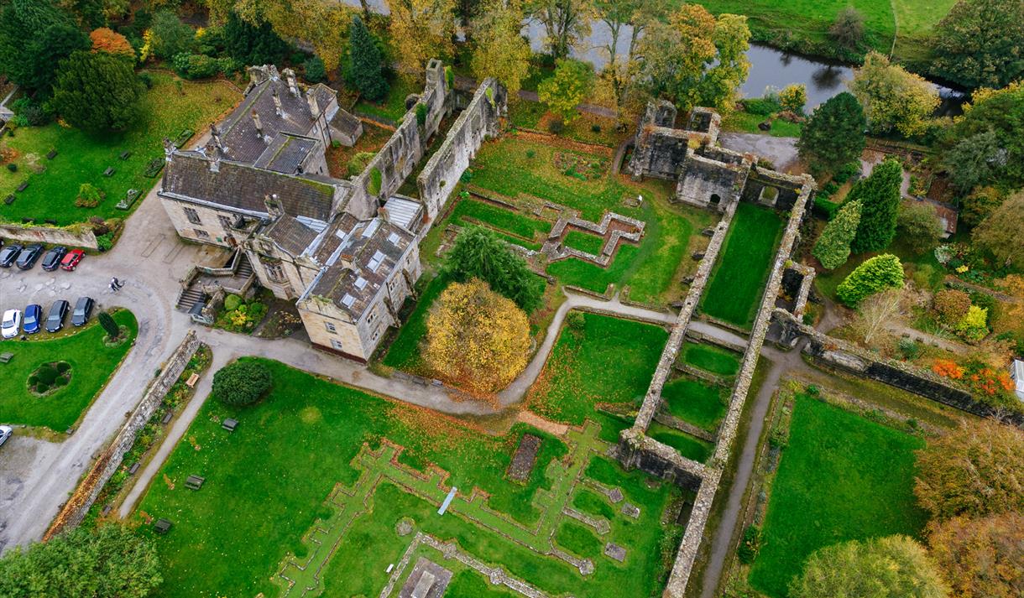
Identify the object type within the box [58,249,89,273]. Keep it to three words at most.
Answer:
car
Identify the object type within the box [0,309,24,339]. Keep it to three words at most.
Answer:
car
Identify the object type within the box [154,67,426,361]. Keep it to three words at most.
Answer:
house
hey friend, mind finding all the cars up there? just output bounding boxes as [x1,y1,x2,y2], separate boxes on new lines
[69,295,94,327]
[39,247,72,272]
[0,419,19,448]
[0,309,24,339]
[0,244,28,270]
[44,300,69,332]
[21,304,44,333]
[58,249,89,273]
[15,245,48,270]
